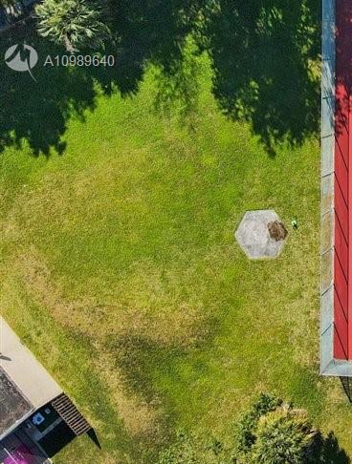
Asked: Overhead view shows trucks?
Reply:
No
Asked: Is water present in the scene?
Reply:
No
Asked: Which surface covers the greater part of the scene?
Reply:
grass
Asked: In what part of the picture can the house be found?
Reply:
bottom left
